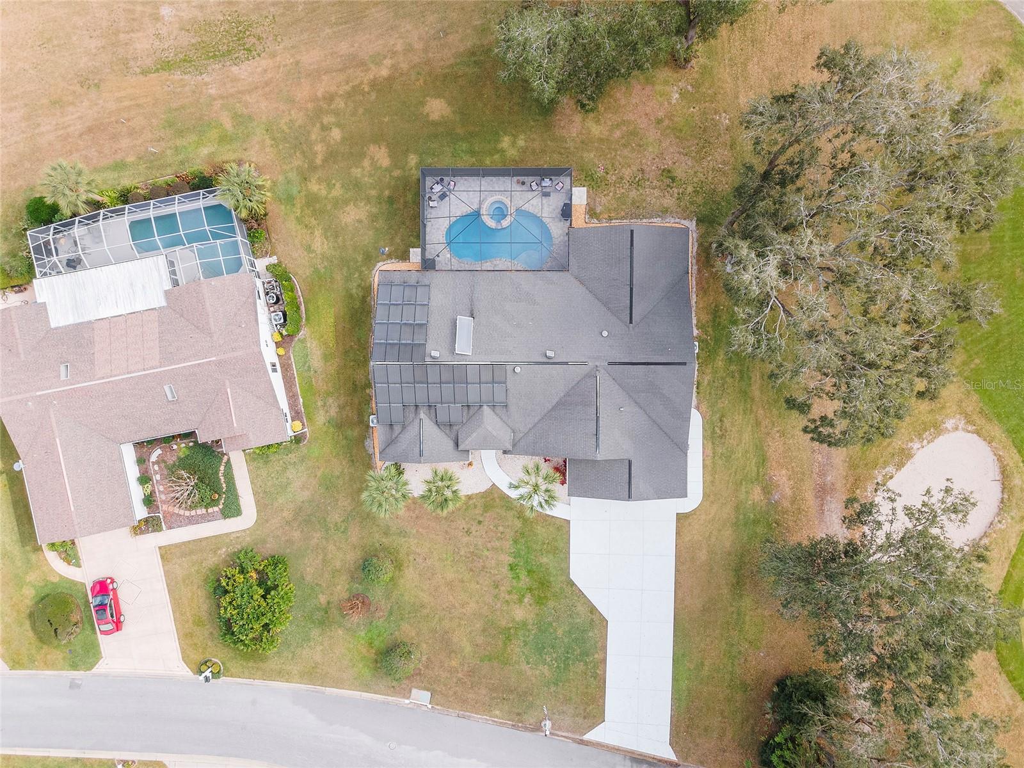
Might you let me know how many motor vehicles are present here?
1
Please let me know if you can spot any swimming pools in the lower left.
No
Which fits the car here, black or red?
red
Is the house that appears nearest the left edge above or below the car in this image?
above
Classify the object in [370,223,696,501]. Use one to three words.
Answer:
house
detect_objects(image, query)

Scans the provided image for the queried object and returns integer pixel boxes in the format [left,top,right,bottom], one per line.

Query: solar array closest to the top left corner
[95,316,160,379]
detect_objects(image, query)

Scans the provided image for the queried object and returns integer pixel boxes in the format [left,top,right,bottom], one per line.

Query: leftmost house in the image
[0,252,293,544]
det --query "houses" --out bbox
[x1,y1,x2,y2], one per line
[0,252,293,544]
[370,223,696,501]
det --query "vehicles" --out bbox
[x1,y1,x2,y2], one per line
[90,576,126,637]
